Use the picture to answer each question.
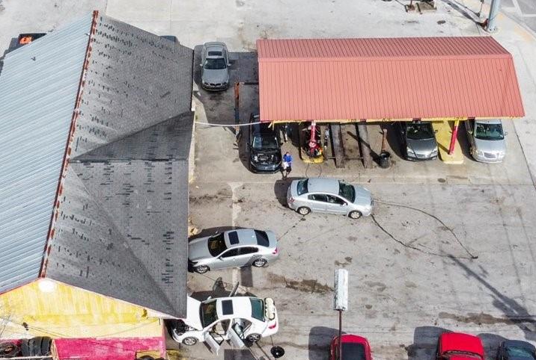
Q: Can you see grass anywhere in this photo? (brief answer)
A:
No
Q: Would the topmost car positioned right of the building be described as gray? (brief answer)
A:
Yes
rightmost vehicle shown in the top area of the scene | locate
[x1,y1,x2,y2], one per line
[466,122,509,160]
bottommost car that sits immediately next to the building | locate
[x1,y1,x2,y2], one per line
[172,277,277,349]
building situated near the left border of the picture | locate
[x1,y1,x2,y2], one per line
[0,13,198,355]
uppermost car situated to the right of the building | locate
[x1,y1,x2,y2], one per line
[198,37,235,89]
